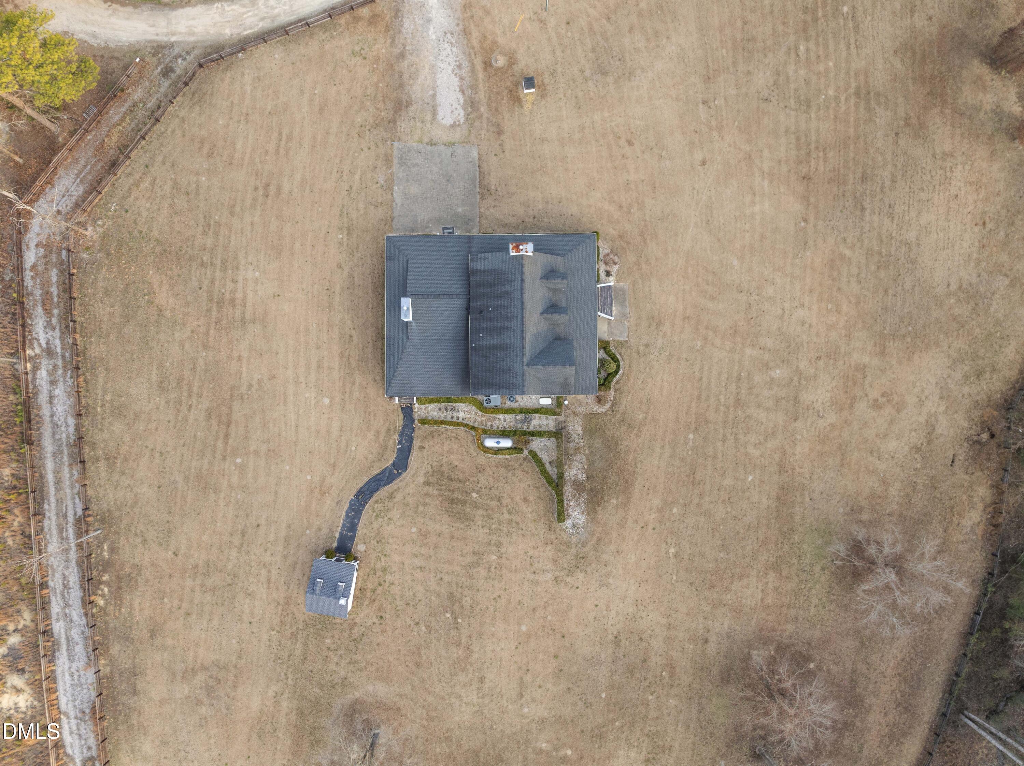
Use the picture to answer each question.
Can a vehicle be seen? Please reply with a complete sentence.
No, no vehicle is visible in the view.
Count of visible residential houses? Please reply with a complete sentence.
In total, there are 2 residential houses in the scene.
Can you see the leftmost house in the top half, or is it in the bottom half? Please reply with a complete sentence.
The leftmost house is in the bottom half of the image.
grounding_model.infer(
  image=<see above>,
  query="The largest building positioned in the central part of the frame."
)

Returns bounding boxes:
[385,233,597,397]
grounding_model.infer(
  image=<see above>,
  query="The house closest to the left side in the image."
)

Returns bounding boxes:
[303,551,361,619]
